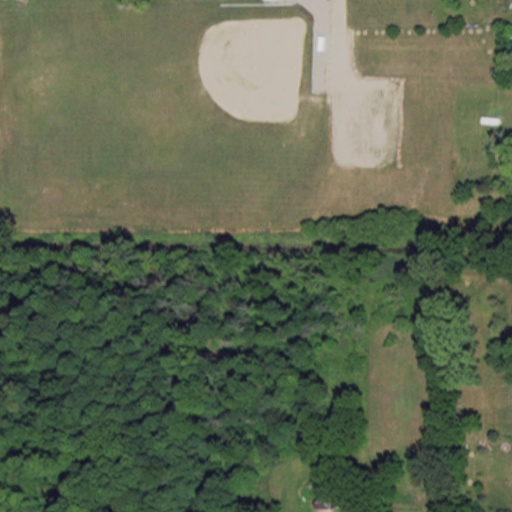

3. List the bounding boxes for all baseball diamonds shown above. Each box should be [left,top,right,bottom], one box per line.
[199,20,304,122]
